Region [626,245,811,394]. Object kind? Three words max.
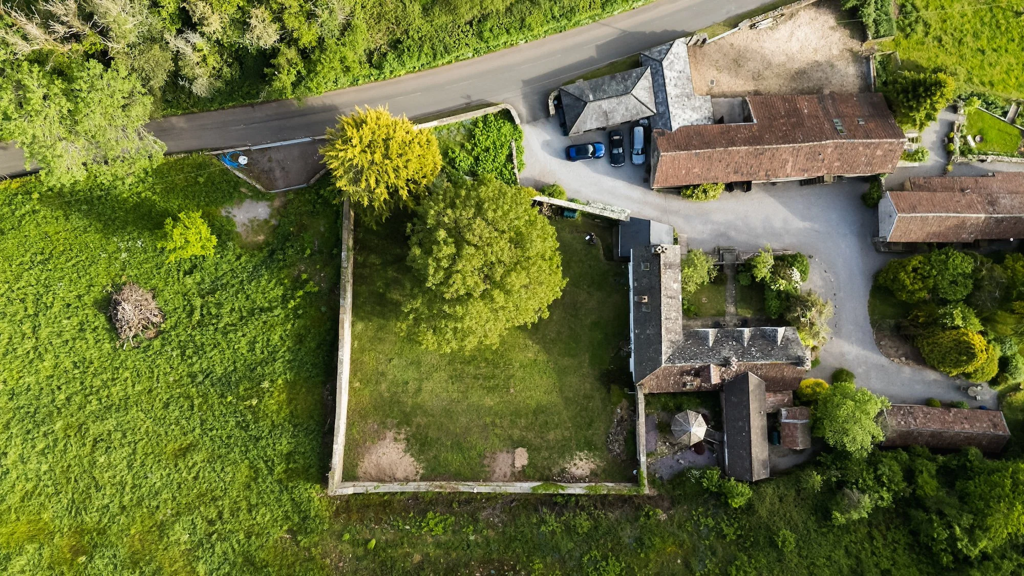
house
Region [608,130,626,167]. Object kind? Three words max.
car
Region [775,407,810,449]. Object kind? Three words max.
shed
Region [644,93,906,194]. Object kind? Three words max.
barn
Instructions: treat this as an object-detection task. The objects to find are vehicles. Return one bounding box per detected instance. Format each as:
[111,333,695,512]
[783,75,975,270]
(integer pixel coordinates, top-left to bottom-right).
[608,130,626,167]
[566,140,605,162]
[629,126,648,165]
